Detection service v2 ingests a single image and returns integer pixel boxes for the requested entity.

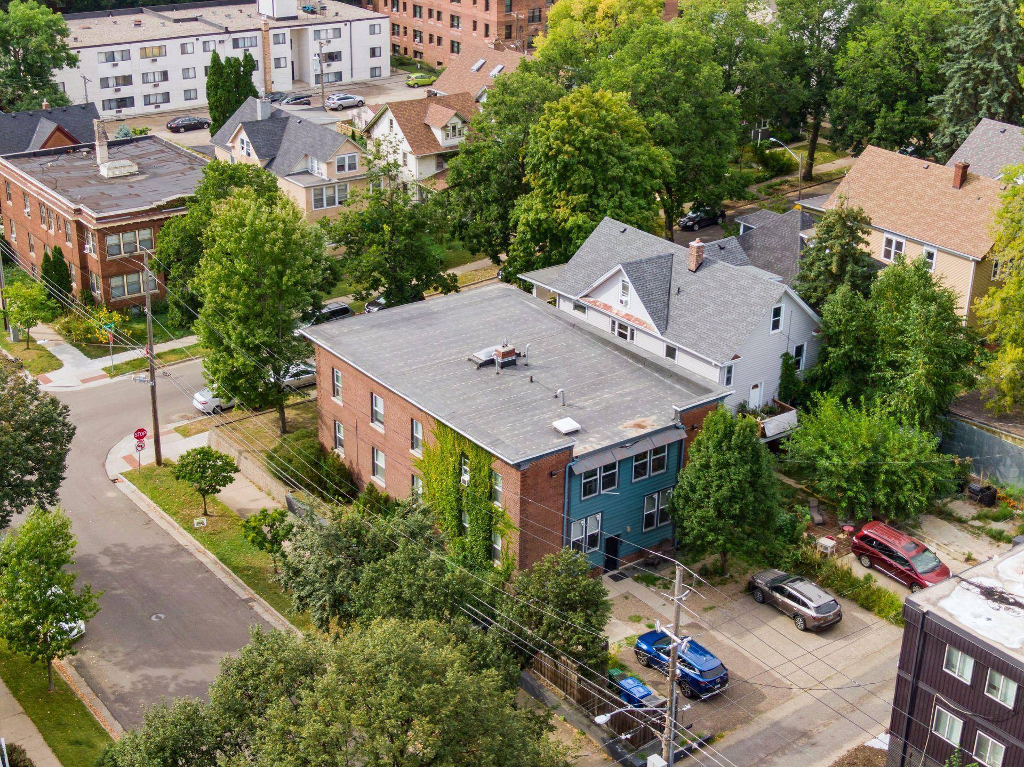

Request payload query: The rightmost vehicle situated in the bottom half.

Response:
[852,522,957,593]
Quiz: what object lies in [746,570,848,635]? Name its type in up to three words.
car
